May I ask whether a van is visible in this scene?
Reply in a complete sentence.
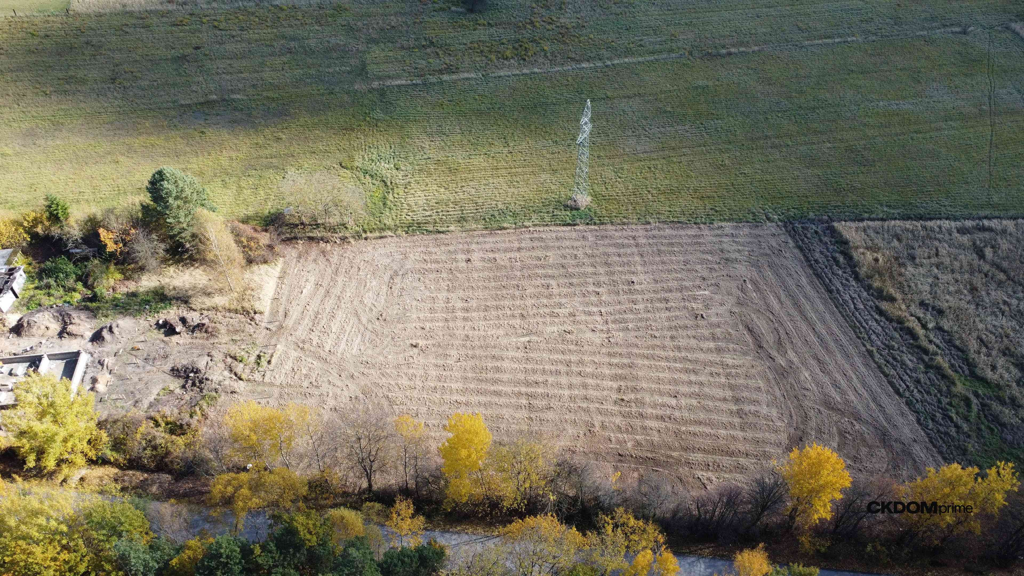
No, no van is visible in the scene.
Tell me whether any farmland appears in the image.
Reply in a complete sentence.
Yes, farmland shows up in the scene.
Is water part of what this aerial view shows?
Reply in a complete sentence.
No, the scene doesn't show any water.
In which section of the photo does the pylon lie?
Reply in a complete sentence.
Look in the top portion of the view to spot the pylon.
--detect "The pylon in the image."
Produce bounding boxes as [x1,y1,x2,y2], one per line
[572,97,594,205]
